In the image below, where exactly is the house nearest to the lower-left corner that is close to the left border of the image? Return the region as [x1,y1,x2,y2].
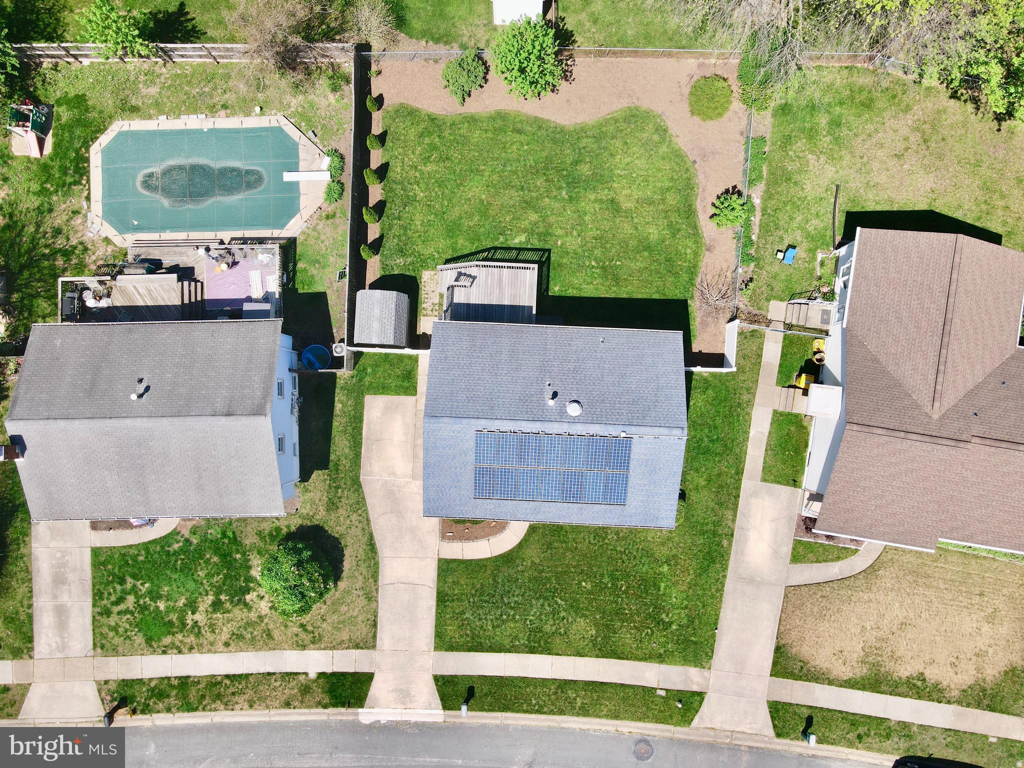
[0,318,302,523]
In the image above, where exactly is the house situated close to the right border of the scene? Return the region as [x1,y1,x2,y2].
[776,228,1024,554]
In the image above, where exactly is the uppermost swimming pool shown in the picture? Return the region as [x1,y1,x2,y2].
[91,116,328,247]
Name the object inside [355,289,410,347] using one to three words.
shed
